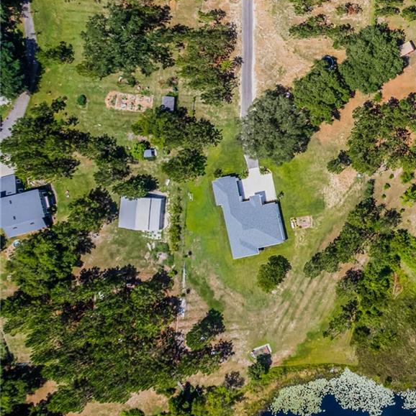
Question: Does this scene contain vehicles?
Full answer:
No, this view has no vehicle in it.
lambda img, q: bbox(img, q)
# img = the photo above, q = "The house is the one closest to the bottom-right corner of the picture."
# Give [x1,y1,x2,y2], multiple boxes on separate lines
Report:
[212,175,287,259]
